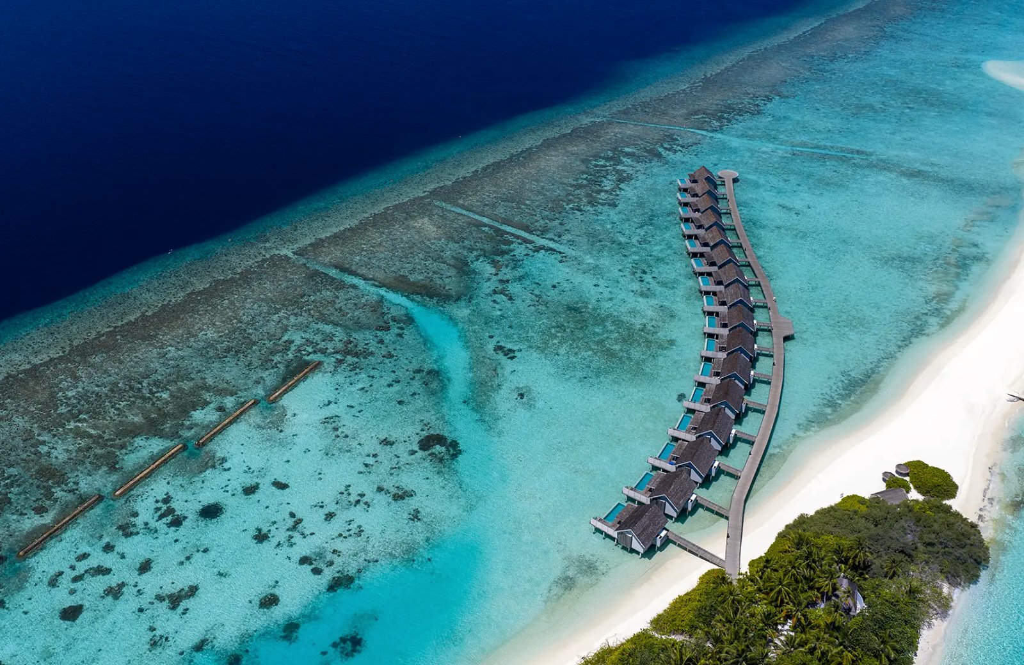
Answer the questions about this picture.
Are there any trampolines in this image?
No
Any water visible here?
Yes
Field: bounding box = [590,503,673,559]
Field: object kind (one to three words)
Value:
house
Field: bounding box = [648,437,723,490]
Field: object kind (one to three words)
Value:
house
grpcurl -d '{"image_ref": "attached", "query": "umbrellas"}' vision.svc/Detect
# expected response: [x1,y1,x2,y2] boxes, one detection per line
[882,469,896,480]
[894,461,911,474]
